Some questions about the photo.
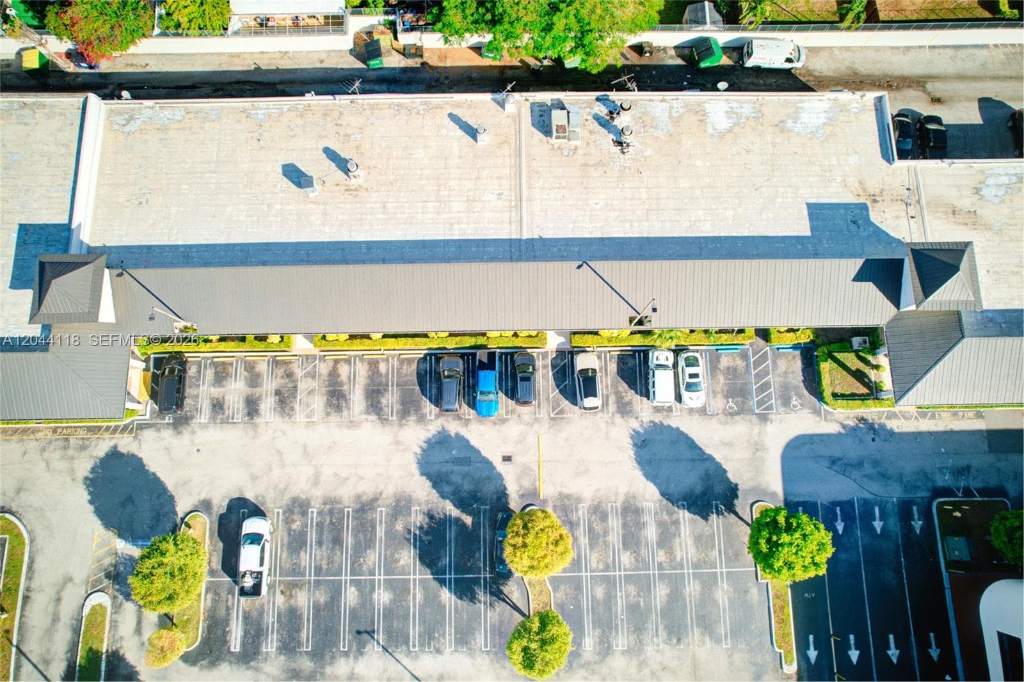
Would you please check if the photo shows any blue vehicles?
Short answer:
Yes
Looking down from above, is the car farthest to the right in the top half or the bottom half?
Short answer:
top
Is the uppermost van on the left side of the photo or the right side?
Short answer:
right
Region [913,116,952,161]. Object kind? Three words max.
car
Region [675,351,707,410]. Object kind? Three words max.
car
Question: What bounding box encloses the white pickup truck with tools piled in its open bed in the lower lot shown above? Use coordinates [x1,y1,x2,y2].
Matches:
[240,518,277,600]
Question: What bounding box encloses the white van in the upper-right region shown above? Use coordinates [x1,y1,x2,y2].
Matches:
[739,37,805,72]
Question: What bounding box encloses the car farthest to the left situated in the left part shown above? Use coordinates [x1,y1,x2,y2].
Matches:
[156,354,191,418]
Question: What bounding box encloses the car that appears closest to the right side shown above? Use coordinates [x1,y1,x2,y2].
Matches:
[999,111,1024,160]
